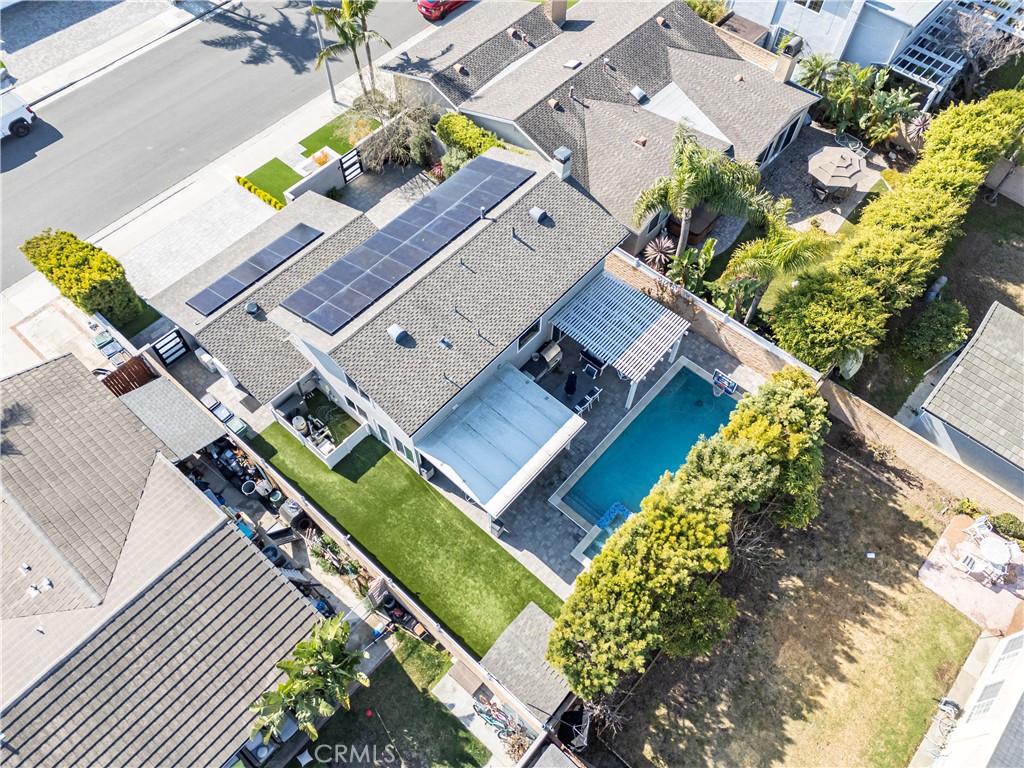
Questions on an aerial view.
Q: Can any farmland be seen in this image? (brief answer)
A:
No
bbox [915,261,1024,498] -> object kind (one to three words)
house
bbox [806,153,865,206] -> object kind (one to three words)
umbrella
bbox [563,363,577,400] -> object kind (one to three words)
umbrella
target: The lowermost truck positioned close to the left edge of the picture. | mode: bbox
[0,99,43,143]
